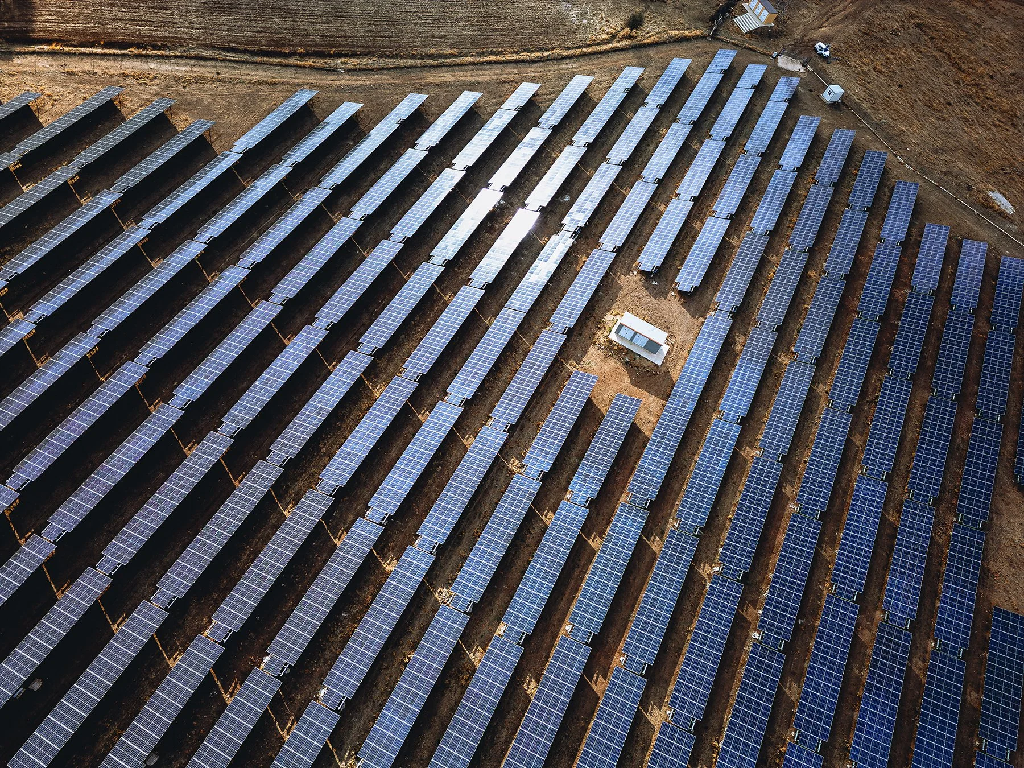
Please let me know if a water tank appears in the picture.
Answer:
No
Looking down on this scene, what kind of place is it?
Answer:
solar farm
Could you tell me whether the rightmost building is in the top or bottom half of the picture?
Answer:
top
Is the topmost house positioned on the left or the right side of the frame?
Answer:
right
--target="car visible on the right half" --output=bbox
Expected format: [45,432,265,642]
[815,42,832,57]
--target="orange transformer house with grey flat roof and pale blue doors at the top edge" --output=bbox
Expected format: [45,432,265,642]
[741,0,781,30]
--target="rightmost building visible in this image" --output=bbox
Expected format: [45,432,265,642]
[820,84,850,104]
